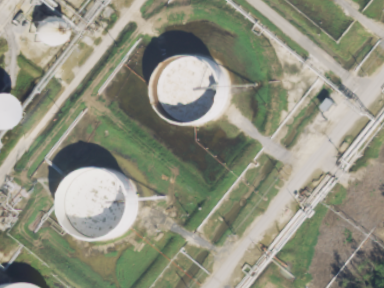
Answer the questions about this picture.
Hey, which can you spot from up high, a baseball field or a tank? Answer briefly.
tank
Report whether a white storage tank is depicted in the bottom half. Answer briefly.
Yes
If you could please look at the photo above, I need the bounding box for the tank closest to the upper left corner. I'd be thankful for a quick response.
[36,14,72,48]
